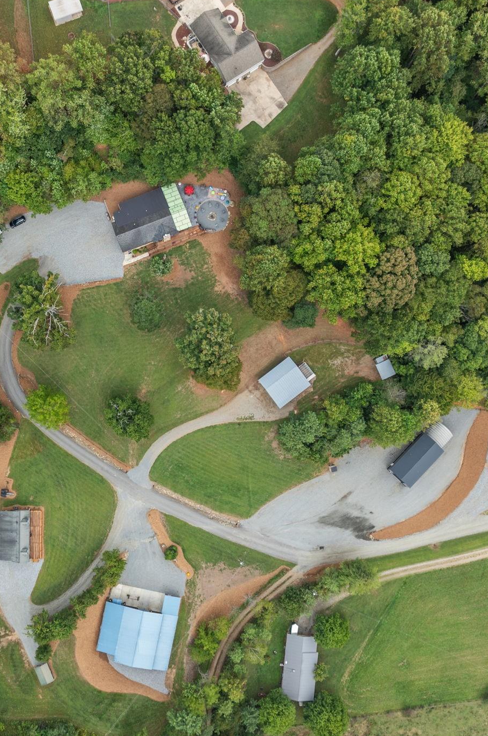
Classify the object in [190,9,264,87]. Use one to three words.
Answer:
house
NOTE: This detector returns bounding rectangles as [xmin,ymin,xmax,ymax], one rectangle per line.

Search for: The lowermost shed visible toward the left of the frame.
[34,662,55,685]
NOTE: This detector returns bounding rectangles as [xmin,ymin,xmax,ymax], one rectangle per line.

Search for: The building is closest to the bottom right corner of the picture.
[280,631,318,706]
